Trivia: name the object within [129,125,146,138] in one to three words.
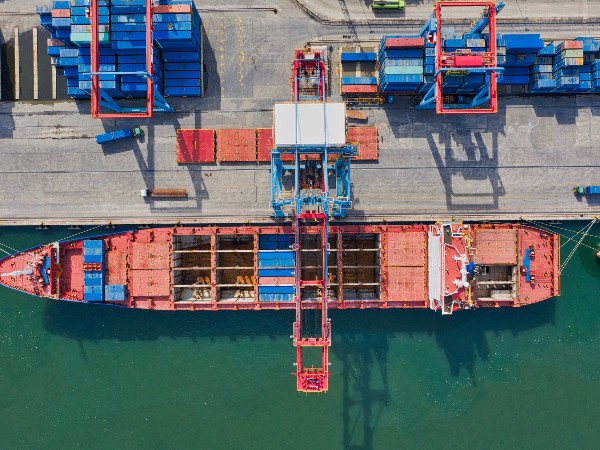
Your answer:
vehicle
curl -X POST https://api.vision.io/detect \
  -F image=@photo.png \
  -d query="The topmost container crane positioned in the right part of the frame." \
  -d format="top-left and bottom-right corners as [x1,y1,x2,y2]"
[414,1,505,112]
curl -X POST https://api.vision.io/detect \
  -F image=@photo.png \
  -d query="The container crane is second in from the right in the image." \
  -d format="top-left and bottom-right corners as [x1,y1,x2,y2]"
[268,54,366,397]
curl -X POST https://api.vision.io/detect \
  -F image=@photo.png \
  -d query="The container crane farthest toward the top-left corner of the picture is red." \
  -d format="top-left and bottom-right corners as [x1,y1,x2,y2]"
[83,0,176,120]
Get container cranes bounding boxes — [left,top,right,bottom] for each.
[268,54,366,397]
[83,0,176,120]
[414,1,505,112]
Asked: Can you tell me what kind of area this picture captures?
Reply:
port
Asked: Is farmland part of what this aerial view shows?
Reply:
No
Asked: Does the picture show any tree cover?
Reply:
No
